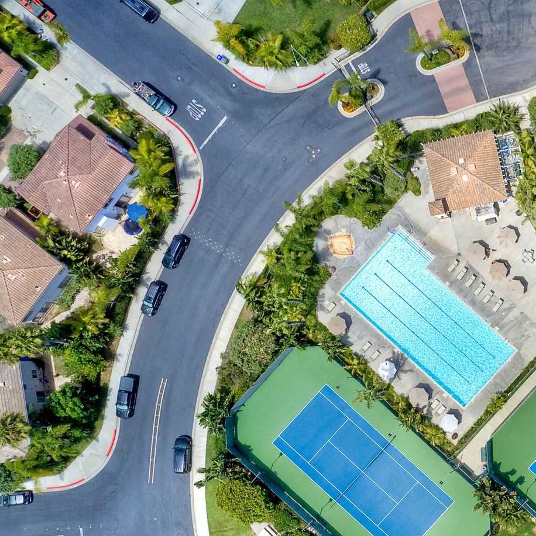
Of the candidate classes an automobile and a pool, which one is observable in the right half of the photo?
pool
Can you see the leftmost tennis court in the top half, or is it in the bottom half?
bottom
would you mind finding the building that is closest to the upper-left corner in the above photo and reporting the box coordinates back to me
[0,52,35,108]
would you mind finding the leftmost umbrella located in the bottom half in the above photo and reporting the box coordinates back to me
[327,317,346,335]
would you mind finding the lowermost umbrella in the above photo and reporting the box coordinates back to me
[440,414,458,432]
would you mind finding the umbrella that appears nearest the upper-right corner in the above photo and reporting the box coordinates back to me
[497,226,517,247]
